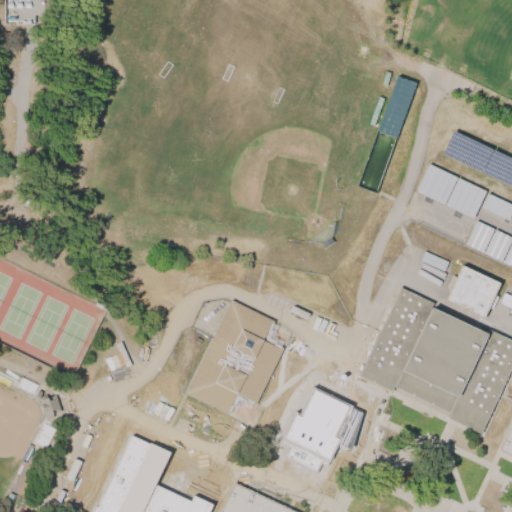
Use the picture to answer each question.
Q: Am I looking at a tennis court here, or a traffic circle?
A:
tennis court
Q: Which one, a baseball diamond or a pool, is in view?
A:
baseball diamond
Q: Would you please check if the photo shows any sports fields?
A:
Yes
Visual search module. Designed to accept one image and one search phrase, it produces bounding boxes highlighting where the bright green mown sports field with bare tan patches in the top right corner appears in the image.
[405,0,512,100]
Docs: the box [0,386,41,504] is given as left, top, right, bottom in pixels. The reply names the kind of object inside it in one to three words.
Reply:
baseball field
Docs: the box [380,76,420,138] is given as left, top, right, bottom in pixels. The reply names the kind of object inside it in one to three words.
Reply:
shed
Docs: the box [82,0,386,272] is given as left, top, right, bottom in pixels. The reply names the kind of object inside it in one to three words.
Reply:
sports field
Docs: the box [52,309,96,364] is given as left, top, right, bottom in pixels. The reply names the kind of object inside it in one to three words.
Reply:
tennis court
